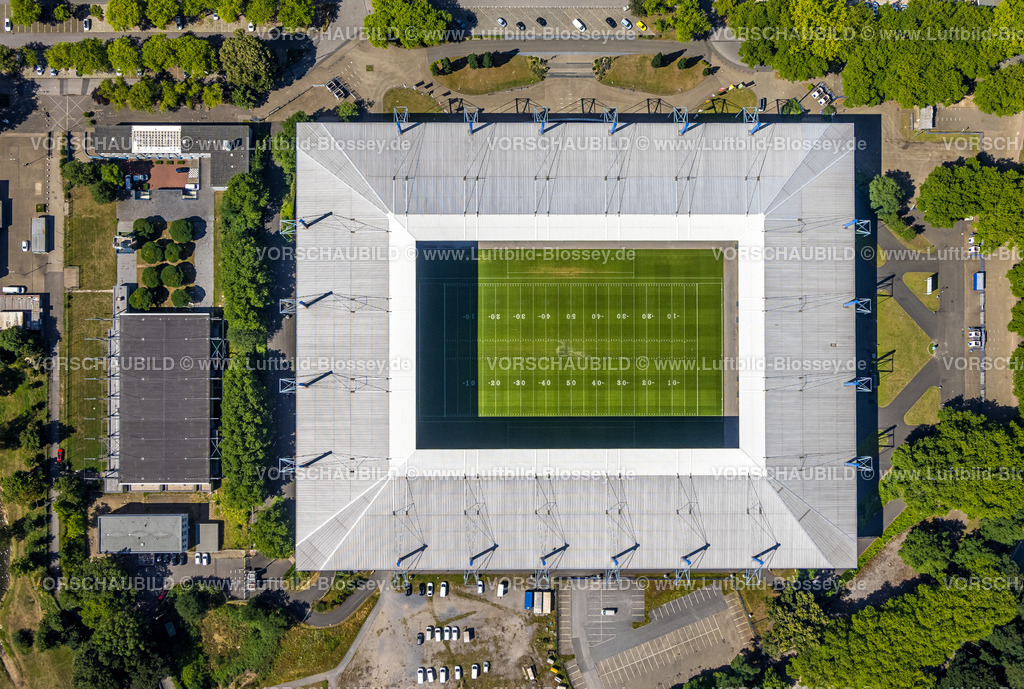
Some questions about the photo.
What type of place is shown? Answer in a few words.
sports ground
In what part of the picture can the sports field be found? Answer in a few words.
center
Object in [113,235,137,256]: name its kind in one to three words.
building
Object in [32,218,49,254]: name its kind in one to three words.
shed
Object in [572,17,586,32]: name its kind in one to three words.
vehicle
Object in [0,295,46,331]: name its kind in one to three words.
shed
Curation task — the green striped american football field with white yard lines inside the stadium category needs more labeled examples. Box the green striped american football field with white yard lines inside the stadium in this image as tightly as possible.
[416,241,738,448]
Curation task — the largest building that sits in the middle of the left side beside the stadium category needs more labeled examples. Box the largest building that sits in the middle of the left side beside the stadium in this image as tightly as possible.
[84,287,229,493]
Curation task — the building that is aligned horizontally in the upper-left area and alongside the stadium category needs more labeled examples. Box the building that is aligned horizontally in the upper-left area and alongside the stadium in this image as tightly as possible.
[95,126,253,191]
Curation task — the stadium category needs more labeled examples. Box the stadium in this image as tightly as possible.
[281,107,872,585]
